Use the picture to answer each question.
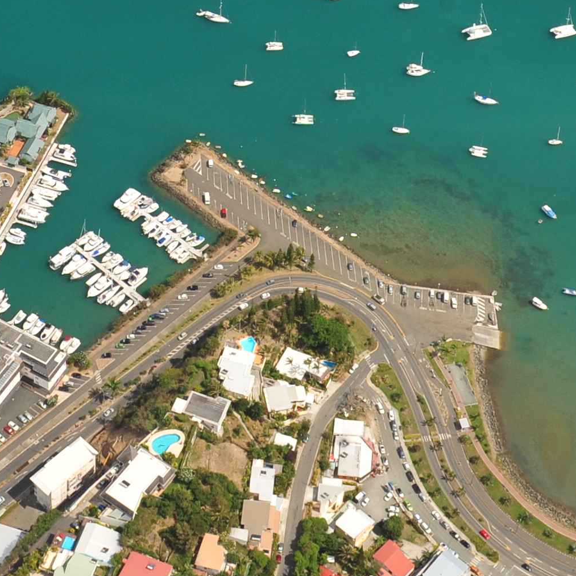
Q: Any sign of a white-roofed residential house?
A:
Yes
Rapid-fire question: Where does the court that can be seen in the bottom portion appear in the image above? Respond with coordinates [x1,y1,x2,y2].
[448,363,477,405]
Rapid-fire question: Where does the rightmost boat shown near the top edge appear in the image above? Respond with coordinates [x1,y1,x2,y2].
[550,8,576,38]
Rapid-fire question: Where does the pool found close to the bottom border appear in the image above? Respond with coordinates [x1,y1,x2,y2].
[60,535,75,551]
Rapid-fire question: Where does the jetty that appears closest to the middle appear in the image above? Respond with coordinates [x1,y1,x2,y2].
[131,208,210,265]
